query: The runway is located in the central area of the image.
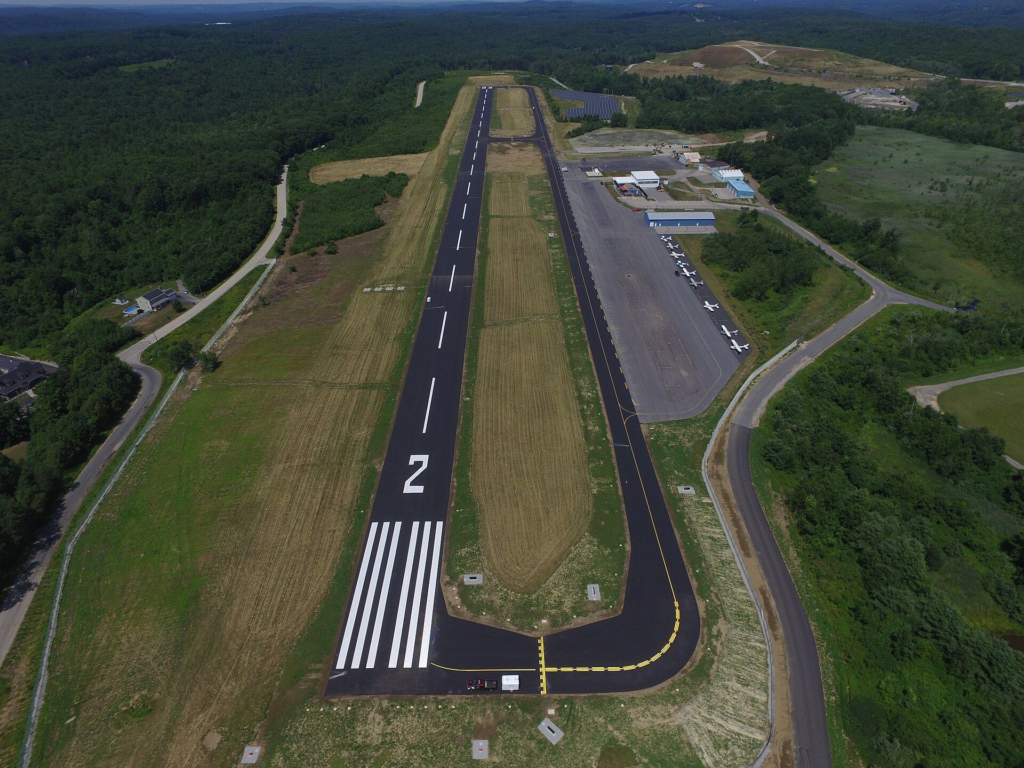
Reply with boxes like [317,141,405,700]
[326,87,494,695]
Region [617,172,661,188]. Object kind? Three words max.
building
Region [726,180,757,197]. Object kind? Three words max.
hangar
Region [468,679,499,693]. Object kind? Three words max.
vehicle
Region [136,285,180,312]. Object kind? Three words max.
house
